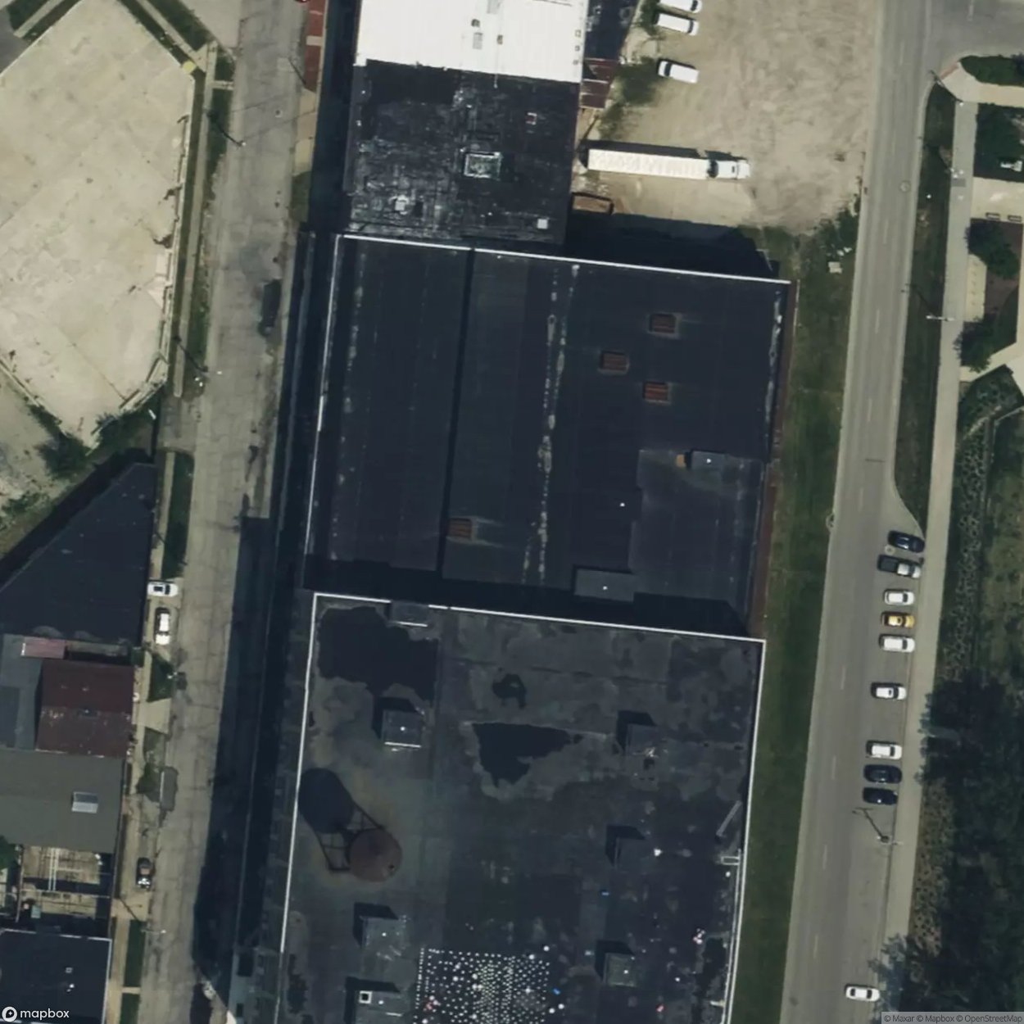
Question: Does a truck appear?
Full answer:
Yes, I can see a truck in this picture.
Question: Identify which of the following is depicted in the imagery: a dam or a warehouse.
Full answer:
Looking from above, you can make out a warehouse.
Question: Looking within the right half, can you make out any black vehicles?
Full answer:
Yes, you'll find a black vehicle within the right half.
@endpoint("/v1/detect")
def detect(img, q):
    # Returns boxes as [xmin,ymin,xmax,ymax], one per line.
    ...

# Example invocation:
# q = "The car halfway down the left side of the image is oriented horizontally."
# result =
[147,582,180,598]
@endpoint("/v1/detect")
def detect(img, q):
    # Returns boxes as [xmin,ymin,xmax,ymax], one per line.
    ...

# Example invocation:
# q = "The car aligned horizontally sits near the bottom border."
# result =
[847,987,880,1003]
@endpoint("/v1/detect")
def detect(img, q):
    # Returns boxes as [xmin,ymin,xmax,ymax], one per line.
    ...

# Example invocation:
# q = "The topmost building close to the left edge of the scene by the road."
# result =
[0,462,156,644]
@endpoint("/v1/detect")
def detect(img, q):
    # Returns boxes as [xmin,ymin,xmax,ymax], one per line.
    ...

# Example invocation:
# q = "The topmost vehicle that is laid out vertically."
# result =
[154,609,171,645]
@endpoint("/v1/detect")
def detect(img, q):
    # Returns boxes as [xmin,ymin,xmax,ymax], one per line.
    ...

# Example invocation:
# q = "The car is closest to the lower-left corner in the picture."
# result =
[137,857,154,890]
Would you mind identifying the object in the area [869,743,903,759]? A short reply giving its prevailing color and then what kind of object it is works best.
white car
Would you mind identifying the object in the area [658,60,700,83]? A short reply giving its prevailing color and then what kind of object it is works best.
white vehicle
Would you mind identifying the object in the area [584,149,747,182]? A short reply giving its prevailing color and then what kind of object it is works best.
white truck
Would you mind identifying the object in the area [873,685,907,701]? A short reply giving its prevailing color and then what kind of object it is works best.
white car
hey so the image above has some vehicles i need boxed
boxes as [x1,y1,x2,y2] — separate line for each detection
[137,857,154,890]
[873,685,907,701]
[880,556,924,578]
[658,13,699,36]
[847,987,880,1003]
[869,743,903,759]
[884,591,916,607]
[882,614,914,630]
[659,0,702,16]
[882,637,916,654]
[154,609,171,645]
[864,789,898,806]
[147,582,180,598]
[889,531,925,551]
[866,766,902,784]
[584,149,747,182]
[658,60,700,83]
